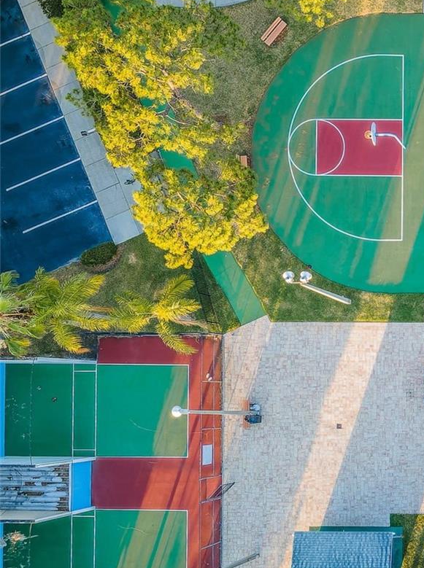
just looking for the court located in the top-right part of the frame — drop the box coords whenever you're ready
[251,11,424,294]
